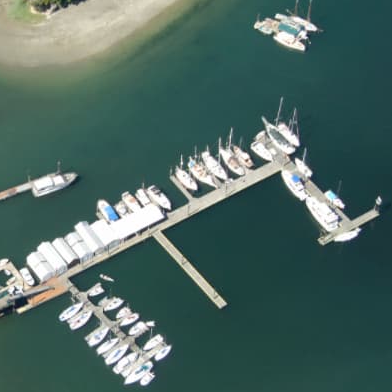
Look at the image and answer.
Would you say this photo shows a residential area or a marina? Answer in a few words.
marina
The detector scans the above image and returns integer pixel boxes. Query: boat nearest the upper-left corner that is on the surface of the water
[32,163,77,198]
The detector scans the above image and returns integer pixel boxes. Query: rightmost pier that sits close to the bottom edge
[74,288,167,377]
